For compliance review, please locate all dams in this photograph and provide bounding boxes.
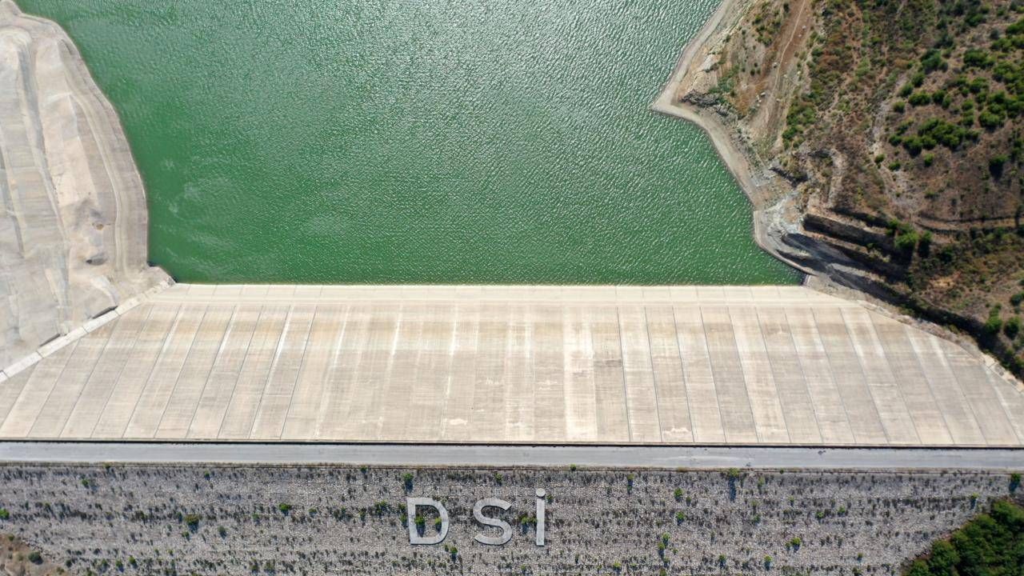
[0,269,1024,576]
